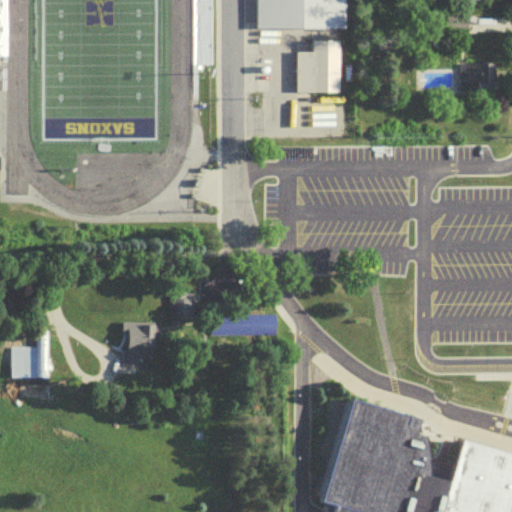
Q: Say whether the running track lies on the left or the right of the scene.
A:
left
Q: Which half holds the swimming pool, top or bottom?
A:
top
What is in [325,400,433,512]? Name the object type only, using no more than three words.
building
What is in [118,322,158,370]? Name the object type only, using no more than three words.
house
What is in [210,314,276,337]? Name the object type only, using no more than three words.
shed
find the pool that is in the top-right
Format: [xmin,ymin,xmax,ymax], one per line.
[416,69,454,90]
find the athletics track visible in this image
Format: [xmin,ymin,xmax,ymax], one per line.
[7,0,192,214]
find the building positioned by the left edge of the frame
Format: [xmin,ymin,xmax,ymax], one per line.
[11,331,54,380]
